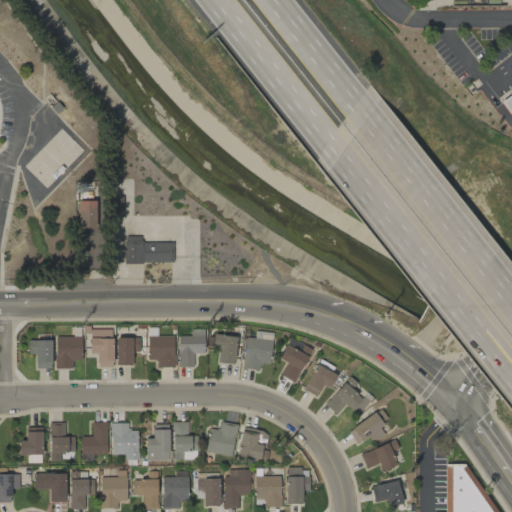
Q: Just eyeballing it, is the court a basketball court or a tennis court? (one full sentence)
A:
The court in the image is a basketball court.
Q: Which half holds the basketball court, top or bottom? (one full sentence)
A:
You can find the basketball court in the top half.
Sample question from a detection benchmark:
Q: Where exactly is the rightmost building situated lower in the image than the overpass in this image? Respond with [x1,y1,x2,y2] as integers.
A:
[448,464,498,512]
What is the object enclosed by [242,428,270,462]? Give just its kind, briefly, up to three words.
house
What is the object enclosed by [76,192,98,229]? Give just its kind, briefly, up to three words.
building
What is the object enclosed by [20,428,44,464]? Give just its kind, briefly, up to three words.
house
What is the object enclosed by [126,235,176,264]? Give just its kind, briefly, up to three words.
building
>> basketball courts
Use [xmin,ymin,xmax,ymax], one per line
[26,129,84,188]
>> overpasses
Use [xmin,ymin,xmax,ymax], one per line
[324,86,512,408]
